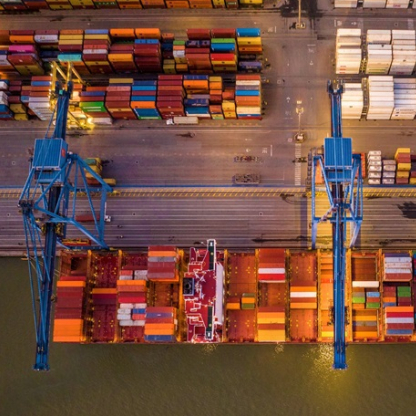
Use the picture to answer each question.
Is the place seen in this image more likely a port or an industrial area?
port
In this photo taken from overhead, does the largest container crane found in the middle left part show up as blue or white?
blue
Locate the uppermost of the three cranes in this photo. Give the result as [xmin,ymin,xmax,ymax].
[48,57,90,127]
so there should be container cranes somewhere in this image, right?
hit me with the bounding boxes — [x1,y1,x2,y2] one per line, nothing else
[300,81,364,370]
[13,79,123,372]
[48,57,90,127]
